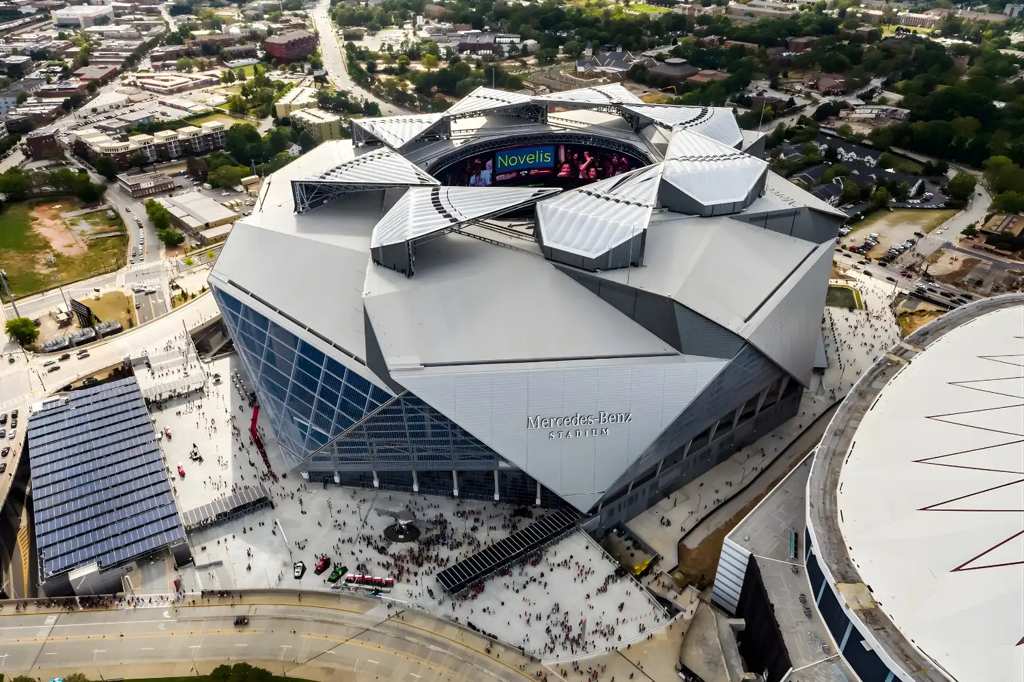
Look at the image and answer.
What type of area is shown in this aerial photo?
sports ground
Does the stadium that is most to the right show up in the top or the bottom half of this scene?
bottom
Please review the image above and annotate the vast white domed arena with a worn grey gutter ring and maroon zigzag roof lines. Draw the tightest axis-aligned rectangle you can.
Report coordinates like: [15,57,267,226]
[714,293,1024,682]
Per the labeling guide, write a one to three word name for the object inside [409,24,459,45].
building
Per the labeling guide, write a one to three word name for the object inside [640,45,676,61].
shed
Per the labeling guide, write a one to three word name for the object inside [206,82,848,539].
stadium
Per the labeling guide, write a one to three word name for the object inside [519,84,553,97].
house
